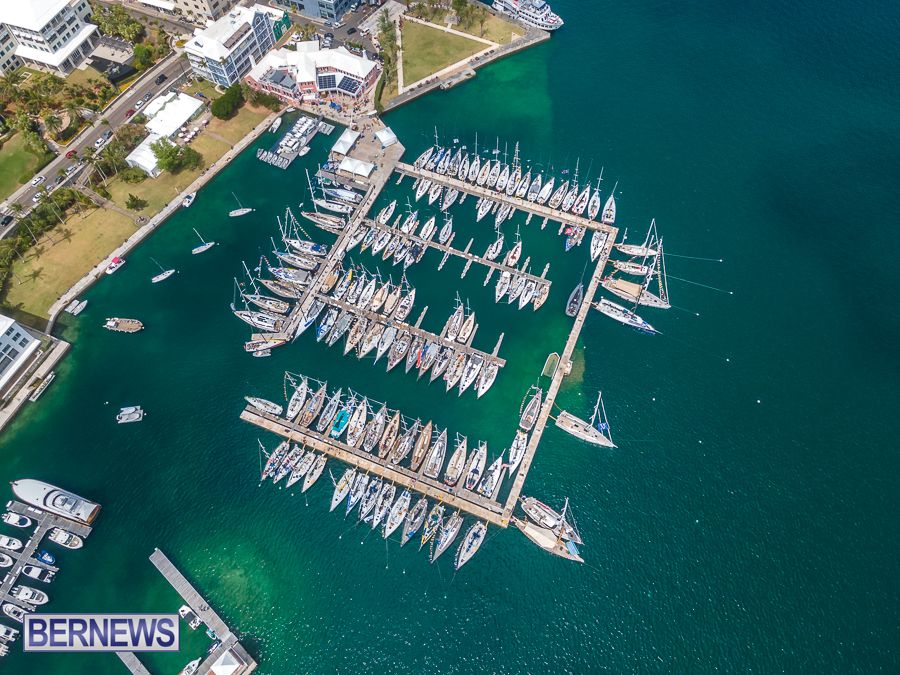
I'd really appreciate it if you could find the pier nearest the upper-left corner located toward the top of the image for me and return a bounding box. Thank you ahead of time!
[254,115,335,169]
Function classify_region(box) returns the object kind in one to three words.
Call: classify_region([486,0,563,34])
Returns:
ship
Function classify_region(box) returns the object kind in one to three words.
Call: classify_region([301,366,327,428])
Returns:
boat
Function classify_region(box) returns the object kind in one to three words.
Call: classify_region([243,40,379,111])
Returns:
building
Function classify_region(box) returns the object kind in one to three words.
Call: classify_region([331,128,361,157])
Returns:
tent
